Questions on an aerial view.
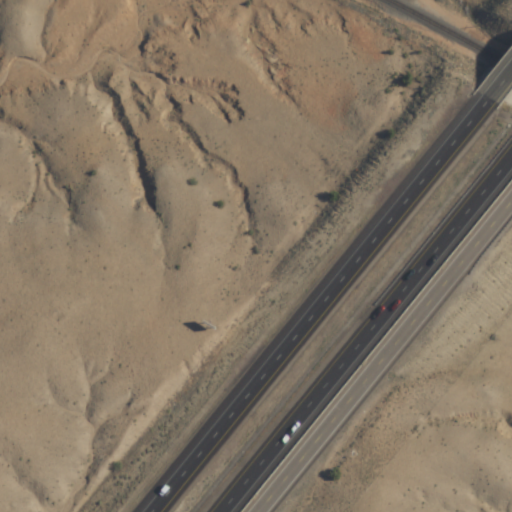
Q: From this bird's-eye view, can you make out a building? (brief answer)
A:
No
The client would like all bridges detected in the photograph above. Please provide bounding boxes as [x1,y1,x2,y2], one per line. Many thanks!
[476,45,512,104]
